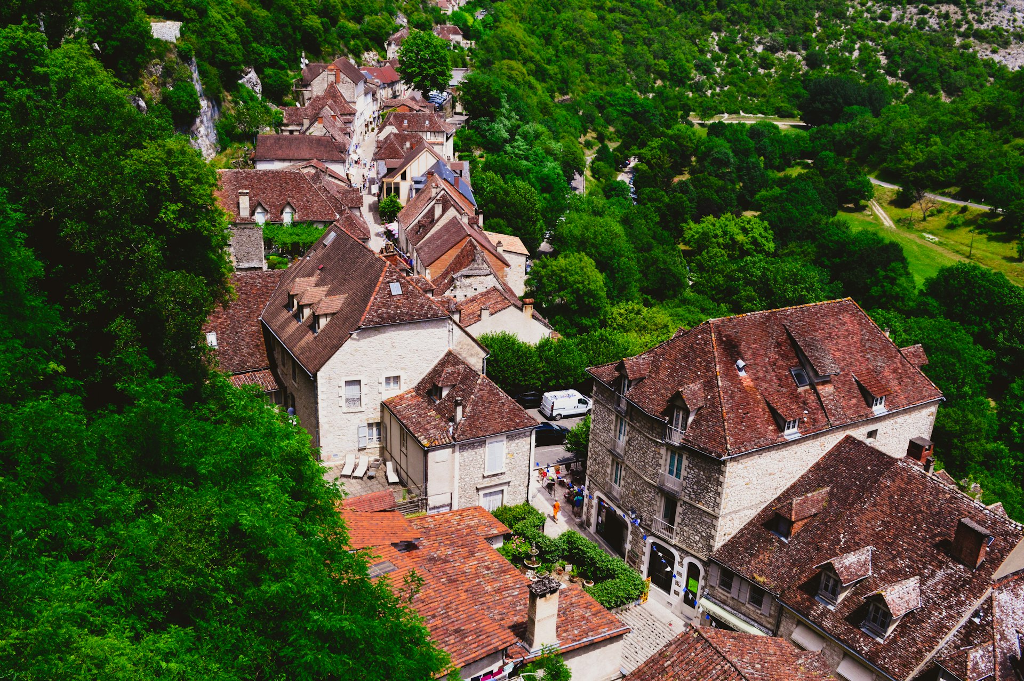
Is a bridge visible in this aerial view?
No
